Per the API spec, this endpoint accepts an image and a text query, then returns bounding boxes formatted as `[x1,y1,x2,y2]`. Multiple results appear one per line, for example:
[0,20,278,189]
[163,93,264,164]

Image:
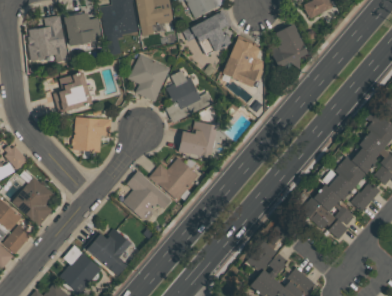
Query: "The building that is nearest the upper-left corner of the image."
[26,16,67,61]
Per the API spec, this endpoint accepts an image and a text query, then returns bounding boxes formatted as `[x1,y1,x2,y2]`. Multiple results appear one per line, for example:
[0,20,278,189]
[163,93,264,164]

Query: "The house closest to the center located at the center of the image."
[179,122,215,156]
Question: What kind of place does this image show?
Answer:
residential area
